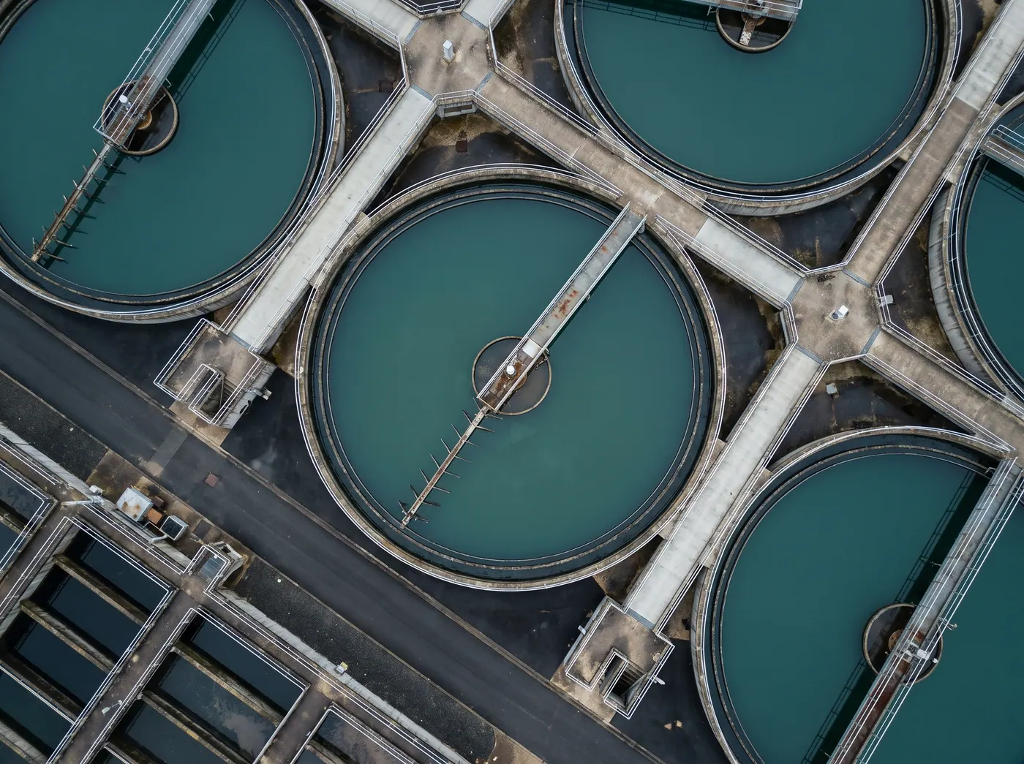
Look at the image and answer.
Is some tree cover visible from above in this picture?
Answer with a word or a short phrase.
No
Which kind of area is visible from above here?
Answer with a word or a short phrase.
industrial area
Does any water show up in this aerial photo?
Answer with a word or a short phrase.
Yes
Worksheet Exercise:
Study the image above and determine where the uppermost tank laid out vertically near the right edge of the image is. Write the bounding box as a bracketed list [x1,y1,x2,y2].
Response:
[929,89,1024,406]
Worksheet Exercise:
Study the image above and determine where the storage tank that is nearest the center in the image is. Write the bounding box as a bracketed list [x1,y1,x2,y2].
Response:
[297,163,724,588]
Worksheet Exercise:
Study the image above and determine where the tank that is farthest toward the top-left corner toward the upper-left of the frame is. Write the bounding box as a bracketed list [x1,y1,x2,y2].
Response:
[0,0,345,321]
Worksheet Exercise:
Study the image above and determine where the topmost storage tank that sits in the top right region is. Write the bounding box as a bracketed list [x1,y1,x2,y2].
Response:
[559,0,970,209]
